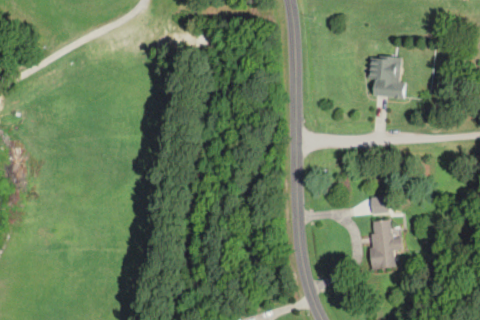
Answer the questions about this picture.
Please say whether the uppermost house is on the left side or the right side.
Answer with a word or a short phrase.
right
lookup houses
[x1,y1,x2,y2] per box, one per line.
[369,218,404,270]
[369,56,409,100]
